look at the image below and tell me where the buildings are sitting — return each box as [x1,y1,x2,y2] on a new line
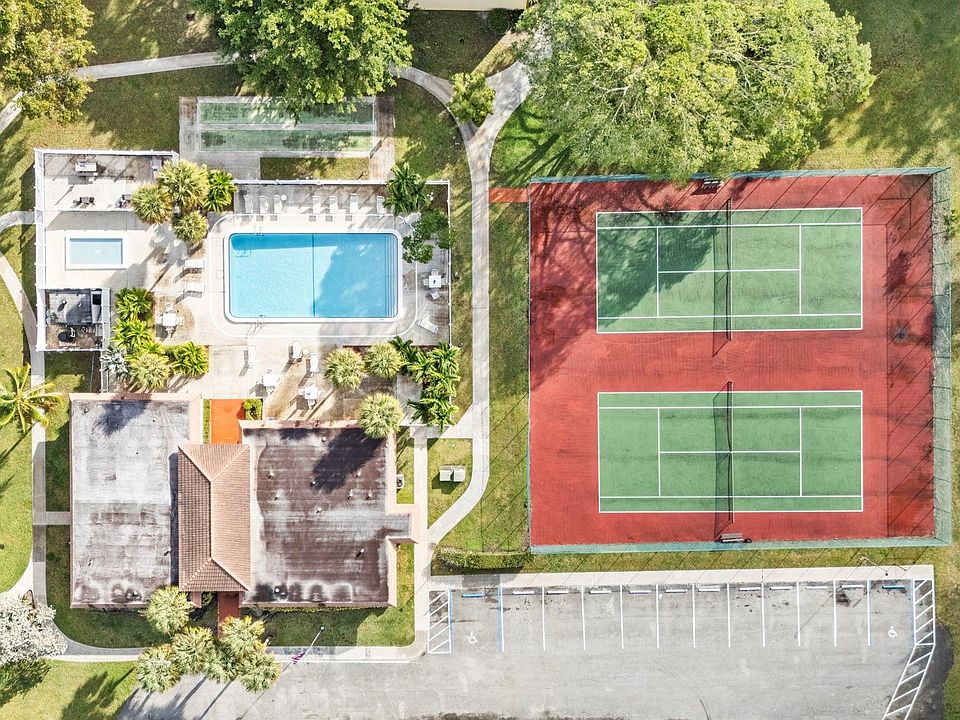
[411,0,526,16]
[69,393,419,609]
[48,292,94,325]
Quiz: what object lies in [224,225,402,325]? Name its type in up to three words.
swimming pool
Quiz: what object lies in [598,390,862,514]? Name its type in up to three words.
tennis court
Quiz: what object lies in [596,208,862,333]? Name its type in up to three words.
tennis court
